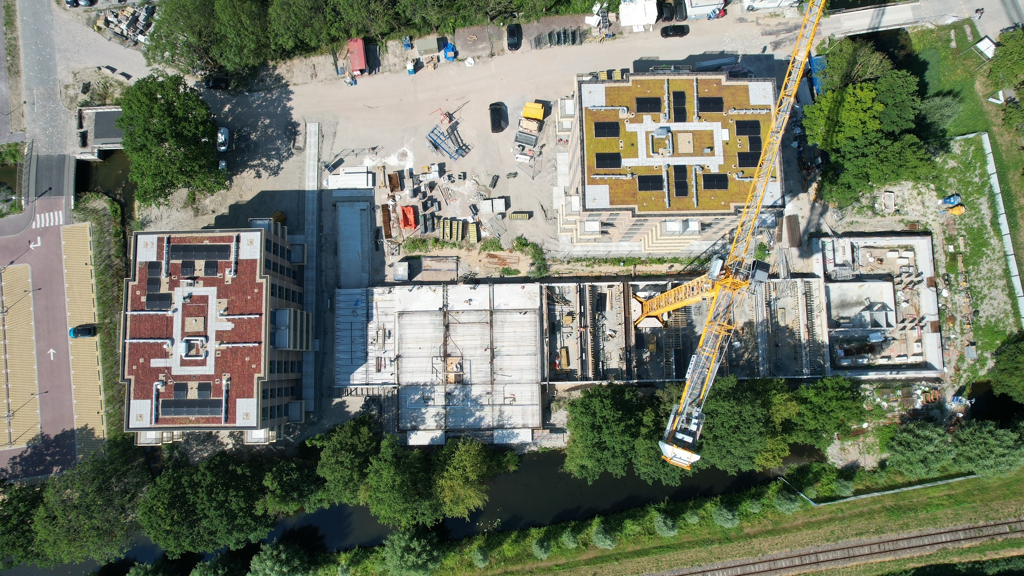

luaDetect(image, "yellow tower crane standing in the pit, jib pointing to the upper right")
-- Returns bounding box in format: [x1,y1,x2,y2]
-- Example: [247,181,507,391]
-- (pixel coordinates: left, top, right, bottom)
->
[635,0,825,472]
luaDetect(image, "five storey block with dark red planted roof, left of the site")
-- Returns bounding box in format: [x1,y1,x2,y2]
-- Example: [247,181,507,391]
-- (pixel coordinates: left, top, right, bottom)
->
[116,219,314,445]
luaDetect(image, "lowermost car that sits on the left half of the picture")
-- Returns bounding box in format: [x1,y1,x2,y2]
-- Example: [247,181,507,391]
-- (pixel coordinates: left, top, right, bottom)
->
[70,326,96,339]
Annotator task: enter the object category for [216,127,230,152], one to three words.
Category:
car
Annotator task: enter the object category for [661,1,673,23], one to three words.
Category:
vehicle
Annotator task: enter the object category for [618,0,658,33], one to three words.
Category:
building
